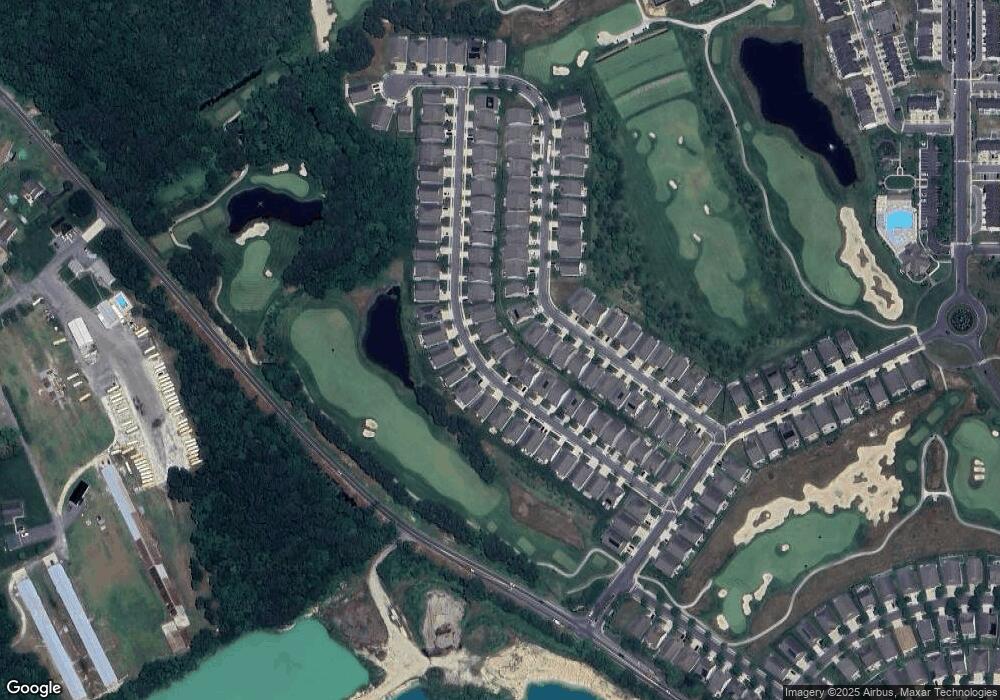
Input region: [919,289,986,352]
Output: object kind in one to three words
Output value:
roundabout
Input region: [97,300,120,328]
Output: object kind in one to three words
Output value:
building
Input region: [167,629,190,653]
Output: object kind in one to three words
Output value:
shed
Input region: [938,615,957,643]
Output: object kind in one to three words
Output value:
house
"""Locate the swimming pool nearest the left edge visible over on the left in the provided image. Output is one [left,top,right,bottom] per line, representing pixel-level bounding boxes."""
[112,292,133,314]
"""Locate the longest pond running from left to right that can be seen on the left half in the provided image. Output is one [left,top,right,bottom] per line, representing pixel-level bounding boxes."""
[228,186,324,234]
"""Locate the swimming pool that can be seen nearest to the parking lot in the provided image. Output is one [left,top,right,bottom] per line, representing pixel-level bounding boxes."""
[876,195,918,255]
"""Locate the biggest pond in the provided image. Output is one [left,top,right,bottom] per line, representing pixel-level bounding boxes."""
[740,38,857,186]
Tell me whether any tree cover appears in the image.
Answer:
Yes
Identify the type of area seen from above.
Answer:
residential area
